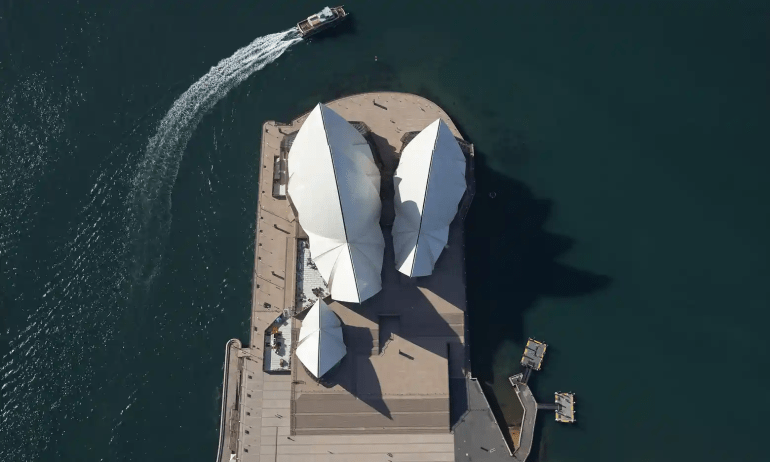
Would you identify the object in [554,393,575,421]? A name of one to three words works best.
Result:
pier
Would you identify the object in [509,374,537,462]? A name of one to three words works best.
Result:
pier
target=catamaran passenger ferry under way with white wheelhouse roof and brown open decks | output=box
[295,2,350,38]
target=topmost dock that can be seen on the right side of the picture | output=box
[521,339,547,368]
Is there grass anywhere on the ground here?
No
